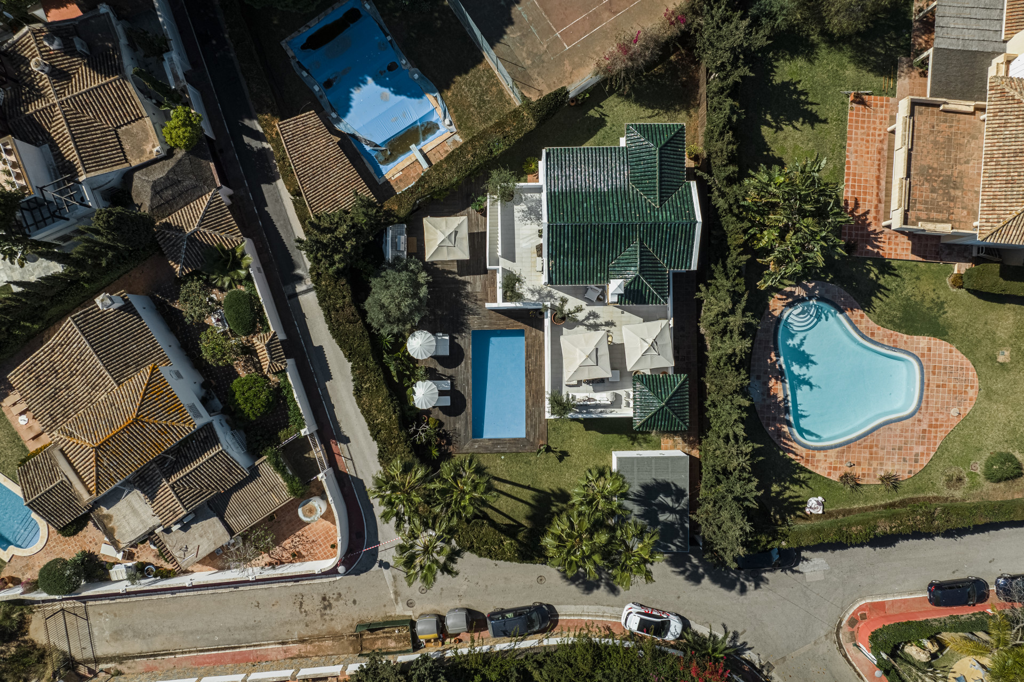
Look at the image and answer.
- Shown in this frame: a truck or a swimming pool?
swimming pool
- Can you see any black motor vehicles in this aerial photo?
Yes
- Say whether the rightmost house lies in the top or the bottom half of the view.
top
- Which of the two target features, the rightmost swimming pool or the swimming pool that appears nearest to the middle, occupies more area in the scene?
the rightmost swimming pool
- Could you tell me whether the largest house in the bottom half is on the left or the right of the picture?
left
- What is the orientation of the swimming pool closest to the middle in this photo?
vertically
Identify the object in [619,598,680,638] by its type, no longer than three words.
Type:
car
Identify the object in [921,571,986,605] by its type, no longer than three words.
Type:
car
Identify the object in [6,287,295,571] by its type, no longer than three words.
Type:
house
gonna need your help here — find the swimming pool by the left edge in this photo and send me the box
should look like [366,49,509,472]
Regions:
[0,476,43,558]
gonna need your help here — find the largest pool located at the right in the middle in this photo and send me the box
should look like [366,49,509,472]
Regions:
[777,297,926,448]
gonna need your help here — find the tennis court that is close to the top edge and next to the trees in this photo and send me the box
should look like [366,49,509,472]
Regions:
[479,0,698,97]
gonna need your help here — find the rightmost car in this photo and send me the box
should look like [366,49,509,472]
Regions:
[988,572,1024,602]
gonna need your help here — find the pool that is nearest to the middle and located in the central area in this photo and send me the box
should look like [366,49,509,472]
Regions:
[471,329,526,439]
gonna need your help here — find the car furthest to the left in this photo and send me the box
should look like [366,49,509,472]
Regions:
[487,599,550,635]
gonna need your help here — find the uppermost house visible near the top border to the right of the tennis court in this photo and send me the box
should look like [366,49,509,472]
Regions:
[878,0,1024,265]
